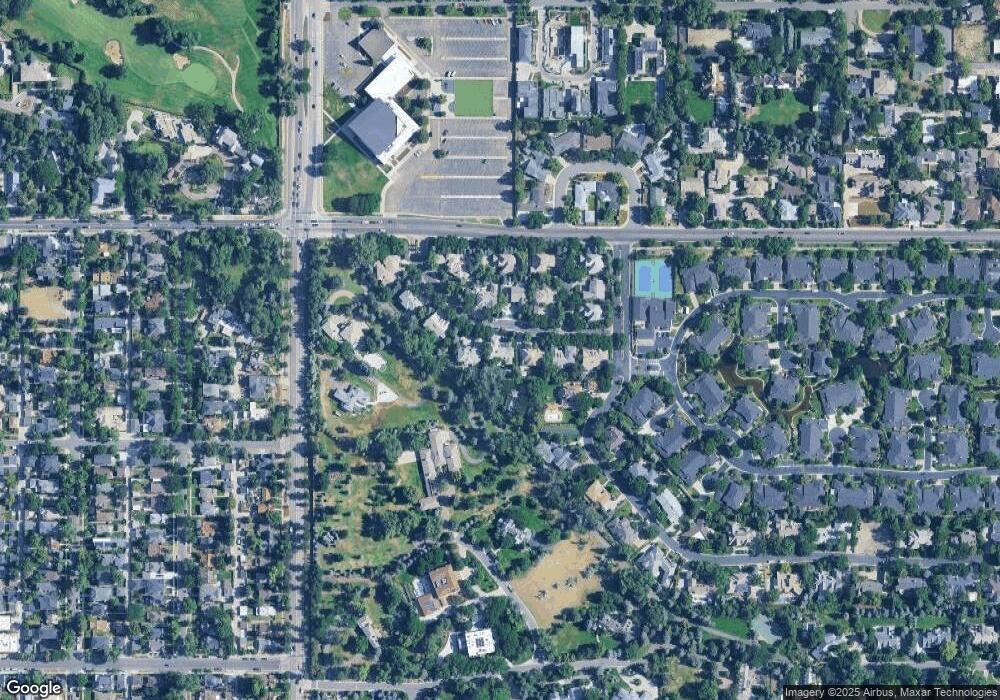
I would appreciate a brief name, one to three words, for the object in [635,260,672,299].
tennis court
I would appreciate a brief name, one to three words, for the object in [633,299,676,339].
building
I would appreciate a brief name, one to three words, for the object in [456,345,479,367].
house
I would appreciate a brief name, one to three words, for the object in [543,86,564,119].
house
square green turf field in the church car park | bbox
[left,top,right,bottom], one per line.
[454,80,493,117]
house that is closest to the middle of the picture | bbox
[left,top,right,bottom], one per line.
[491,335,514,363]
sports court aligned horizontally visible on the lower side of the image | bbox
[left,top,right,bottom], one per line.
[540,424,579,436]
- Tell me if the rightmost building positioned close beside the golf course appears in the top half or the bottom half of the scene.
top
